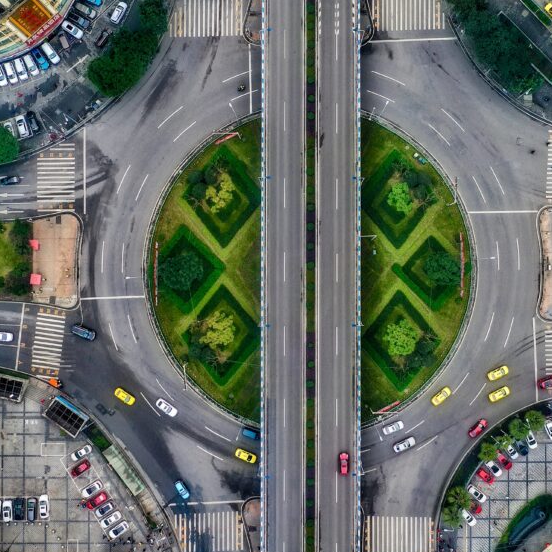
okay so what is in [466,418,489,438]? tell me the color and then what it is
red car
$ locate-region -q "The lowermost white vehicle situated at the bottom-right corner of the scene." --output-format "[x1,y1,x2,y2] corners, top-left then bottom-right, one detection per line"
[458,507,478,526]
